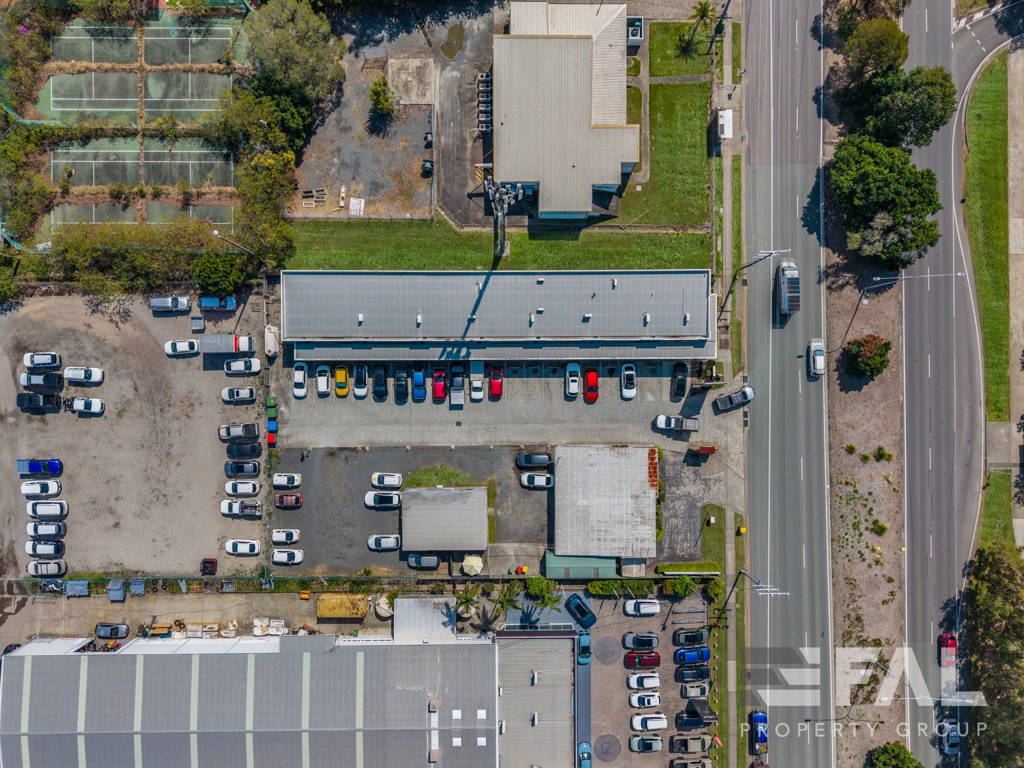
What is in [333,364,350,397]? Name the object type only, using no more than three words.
car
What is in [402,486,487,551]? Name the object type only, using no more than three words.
building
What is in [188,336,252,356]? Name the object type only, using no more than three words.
vehicle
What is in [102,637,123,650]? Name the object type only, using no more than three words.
vehicle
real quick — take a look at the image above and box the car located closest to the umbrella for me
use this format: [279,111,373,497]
[407,552,442,570]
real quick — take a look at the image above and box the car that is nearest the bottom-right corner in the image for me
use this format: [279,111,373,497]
[940,718,961,755]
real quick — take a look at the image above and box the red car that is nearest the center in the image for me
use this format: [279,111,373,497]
[488,365,505,400]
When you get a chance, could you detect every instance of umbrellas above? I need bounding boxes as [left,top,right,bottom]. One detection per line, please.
[462,554,484,576]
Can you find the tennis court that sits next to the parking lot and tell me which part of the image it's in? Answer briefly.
top left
